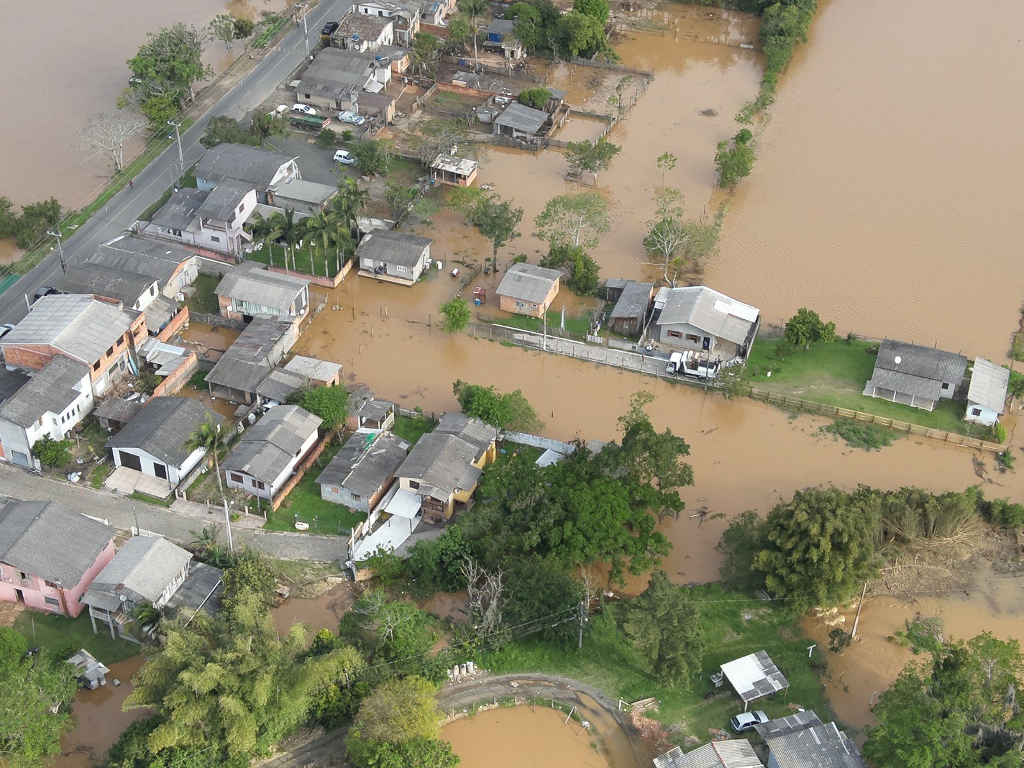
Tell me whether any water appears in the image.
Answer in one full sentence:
Yes, there's water in this view.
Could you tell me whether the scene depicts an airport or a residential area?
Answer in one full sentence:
The picture captures a residential area.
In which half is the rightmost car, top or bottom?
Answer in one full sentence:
The rightmost car sits in the bottom half of the picture.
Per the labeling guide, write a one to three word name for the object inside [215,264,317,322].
building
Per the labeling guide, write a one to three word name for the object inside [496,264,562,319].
house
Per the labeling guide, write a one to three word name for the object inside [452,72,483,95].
shed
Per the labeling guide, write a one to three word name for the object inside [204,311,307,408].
building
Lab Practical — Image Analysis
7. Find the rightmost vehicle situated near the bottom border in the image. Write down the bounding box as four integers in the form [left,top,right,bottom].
[732,709,770,732]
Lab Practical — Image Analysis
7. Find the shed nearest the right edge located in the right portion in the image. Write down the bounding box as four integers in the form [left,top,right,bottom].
[966,358,1013,427]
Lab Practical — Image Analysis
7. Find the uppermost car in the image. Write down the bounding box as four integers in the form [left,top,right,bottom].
[319,18,342,32]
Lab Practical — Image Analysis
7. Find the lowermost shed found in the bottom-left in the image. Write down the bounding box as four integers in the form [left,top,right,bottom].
[67,649,108,691]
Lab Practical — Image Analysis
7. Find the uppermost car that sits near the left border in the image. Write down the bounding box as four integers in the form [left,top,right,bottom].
[27,281,58,299]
